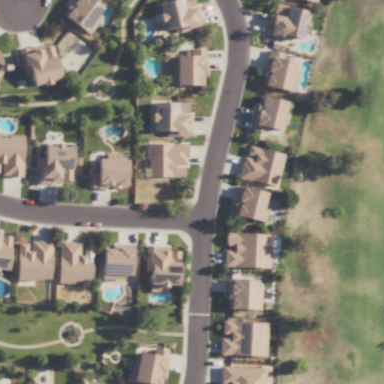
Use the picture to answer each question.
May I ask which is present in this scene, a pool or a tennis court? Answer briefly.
pool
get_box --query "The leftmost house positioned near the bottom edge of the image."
[136,352,174,384]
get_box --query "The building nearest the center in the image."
[144,143,190,178]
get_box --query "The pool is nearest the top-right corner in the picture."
[296,38,318,54]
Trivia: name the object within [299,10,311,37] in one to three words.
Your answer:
solar panel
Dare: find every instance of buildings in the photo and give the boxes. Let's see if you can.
[162,0,210,33]
[256,96,292,131]
[239,145,287,188]
[0,228,14,270]
[222,320,270,358]
[68,0,115,32]
[239,188,272,222]
[0,133,26,176]
[18,240,54,280]
[274,2,314,40]
[104,245,138,280]
[227,232,273,268]
[222,366,273,384]
[60,241,95,283]
[229,279,264,310]
[98,152,132,189]
[136,352,174,384]
[40,143,76,184]
[147,246,184,292]
[151,100,195,133]
[24,43,63,82]
[180,50,209,86]
[266,52,301,92]
[144,143,190,178]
